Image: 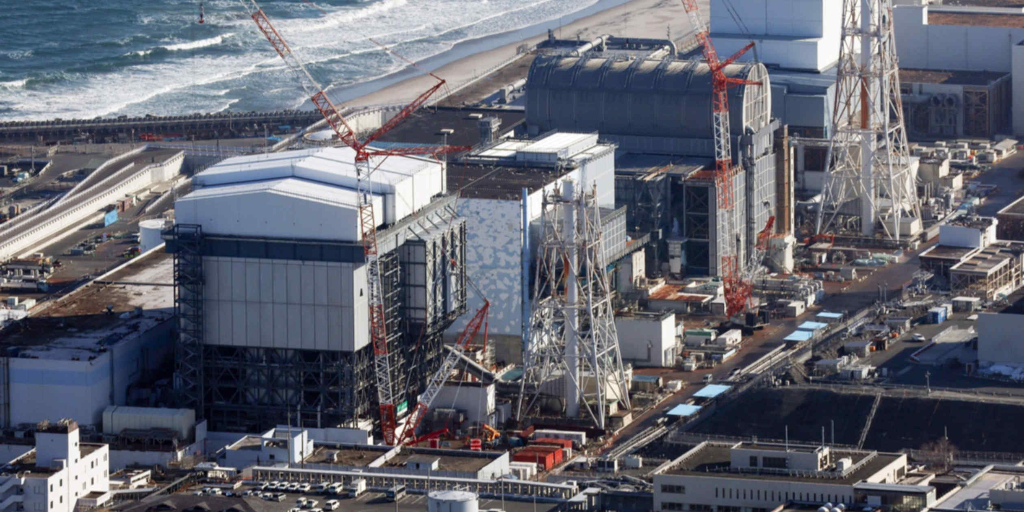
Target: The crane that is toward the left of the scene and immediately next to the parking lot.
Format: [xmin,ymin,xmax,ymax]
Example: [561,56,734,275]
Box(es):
[234,0,491,446]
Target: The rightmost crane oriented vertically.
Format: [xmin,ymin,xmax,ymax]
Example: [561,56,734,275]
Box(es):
[677,0,791,328]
